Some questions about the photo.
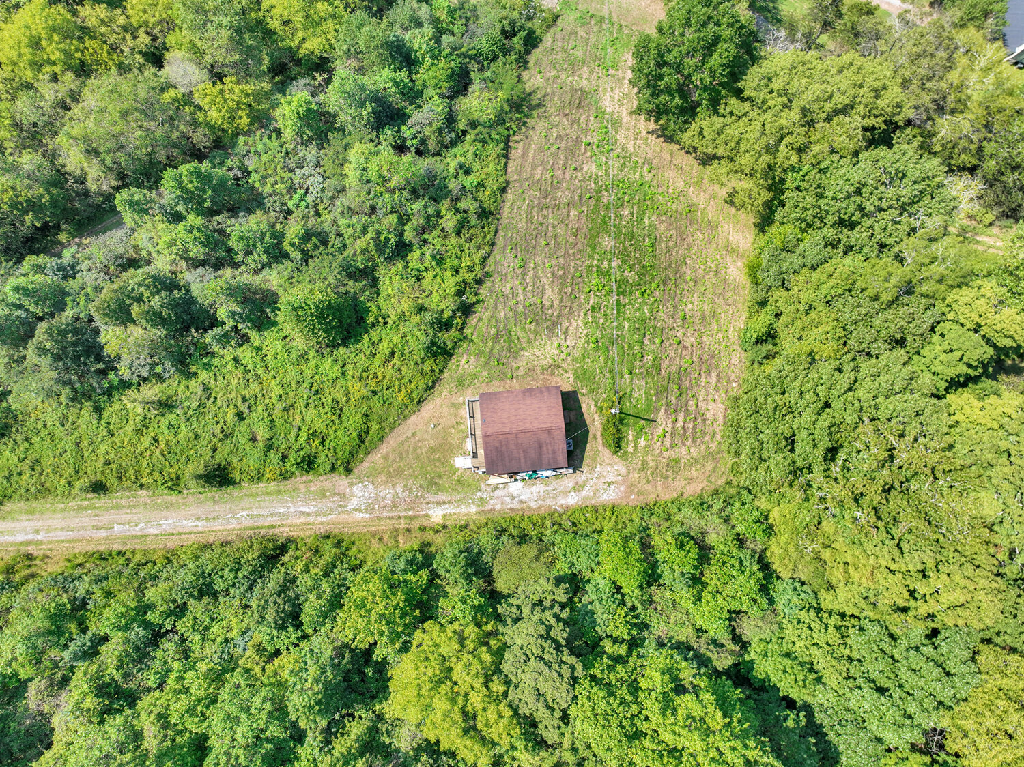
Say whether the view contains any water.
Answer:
No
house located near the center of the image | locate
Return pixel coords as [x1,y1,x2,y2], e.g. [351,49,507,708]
[455,386,569,475]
